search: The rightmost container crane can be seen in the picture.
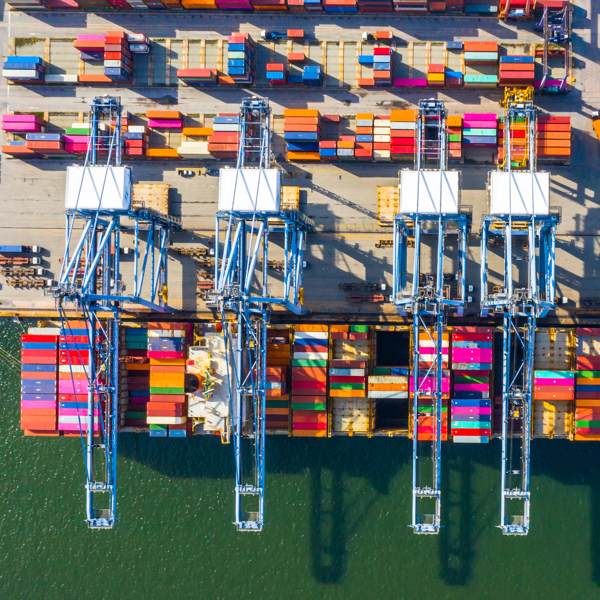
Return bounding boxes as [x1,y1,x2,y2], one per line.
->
[533,6,570,97]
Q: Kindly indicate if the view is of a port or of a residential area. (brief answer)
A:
port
